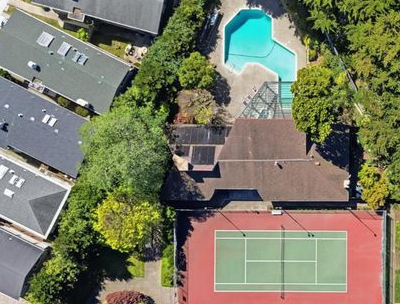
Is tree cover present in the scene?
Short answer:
Yes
